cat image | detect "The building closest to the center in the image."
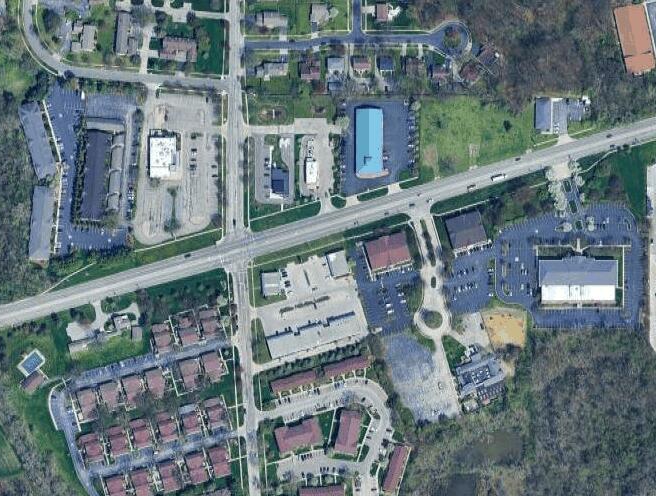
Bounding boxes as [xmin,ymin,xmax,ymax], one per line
[328,251,351,278]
